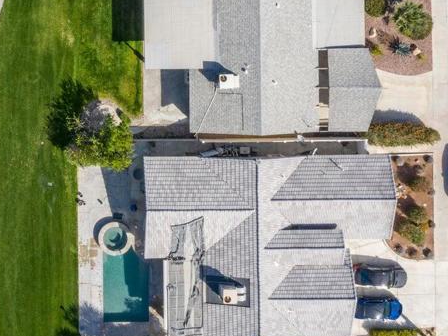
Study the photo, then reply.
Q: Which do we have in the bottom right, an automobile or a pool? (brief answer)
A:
automobile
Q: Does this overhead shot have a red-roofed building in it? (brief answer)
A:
No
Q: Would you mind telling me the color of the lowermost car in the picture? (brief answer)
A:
blue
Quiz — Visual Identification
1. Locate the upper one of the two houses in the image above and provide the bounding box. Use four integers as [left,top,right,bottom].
[140,0,381,135]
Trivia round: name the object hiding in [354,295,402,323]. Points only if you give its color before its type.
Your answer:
blue car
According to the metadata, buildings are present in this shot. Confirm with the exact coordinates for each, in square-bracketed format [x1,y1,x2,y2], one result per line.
[143,155,397,336]
[140,0,381,135]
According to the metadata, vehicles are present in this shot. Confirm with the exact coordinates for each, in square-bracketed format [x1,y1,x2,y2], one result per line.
[354,295,402,323]
[351,262,407,290]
